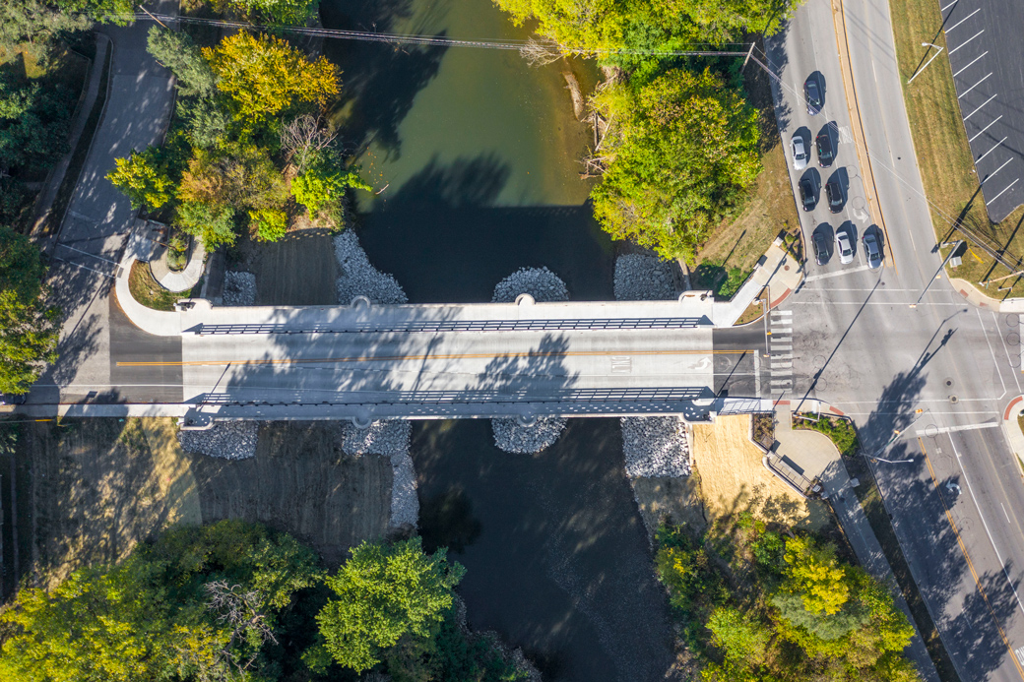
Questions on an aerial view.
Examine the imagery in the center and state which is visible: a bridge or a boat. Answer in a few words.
bridge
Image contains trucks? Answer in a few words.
No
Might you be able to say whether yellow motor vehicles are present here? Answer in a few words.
No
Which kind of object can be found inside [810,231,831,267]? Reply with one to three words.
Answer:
car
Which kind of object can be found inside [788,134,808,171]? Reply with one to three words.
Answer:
car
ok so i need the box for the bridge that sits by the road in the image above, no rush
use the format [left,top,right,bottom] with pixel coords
[175,287,719,433]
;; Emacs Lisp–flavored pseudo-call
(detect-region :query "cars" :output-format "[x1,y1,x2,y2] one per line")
[810,231,831,267]
[803,80,823,116]
[862,233,883,270]
[788,134,808,171]
[824,180,845,216]
[0,389,28,406]
[834,229,855,265]
[814,133,835,169]
[797,176,819,213]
